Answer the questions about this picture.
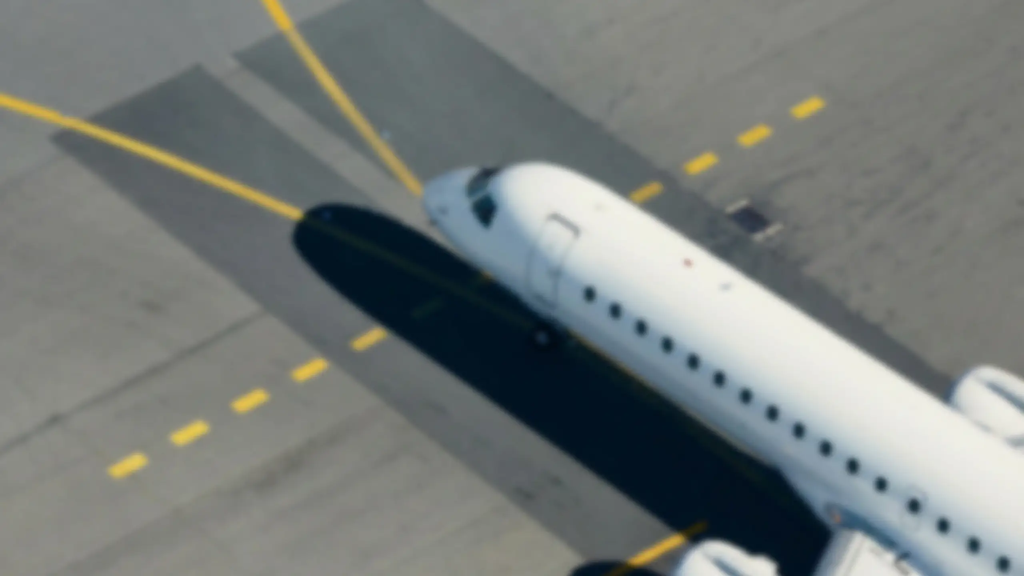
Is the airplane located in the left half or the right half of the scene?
right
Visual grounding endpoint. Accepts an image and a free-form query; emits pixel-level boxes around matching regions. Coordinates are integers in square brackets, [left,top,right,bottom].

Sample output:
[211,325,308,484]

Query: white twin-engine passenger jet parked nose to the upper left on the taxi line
[420,162,1024,576]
